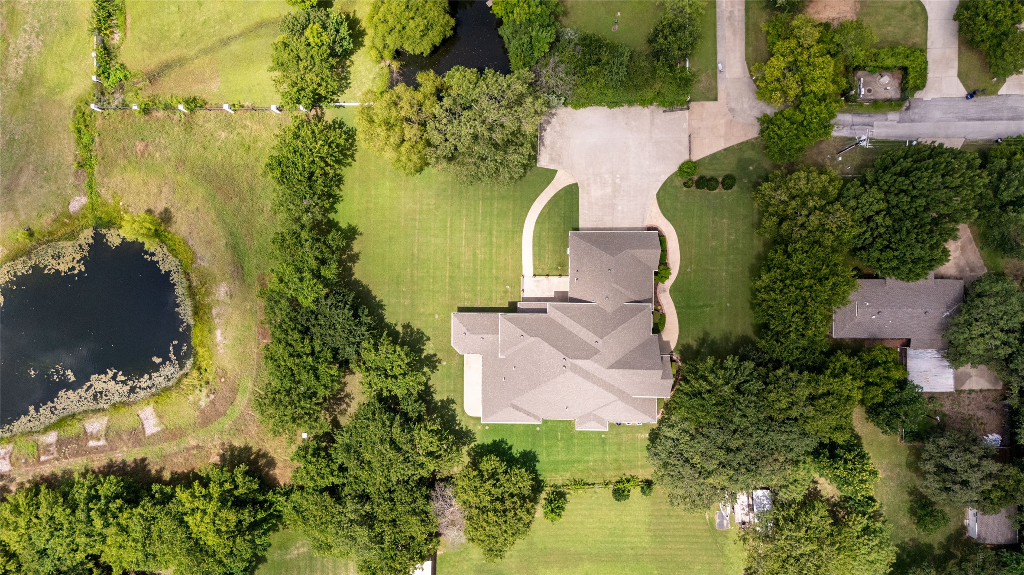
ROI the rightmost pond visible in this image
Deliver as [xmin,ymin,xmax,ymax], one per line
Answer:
[387,0,519,100]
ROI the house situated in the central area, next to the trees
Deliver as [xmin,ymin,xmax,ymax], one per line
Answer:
[451,231,679,431]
